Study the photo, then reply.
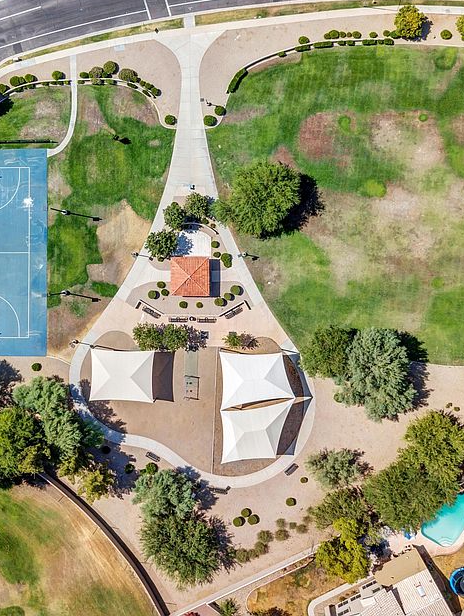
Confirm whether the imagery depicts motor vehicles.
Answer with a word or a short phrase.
No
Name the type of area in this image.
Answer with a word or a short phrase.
sports ground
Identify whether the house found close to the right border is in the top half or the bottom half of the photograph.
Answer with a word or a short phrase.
bottom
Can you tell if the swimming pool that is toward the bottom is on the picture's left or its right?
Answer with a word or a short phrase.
right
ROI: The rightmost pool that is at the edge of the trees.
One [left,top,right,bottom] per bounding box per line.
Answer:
[419,489,464,550]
